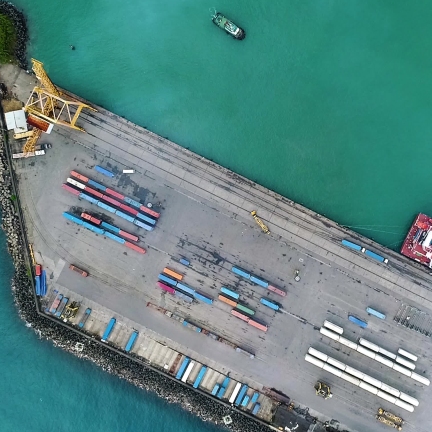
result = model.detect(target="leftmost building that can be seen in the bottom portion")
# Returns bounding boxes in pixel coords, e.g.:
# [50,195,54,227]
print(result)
[272,403,320,432]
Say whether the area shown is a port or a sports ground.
port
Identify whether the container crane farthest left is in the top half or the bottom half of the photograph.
top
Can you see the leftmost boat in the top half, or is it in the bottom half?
top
